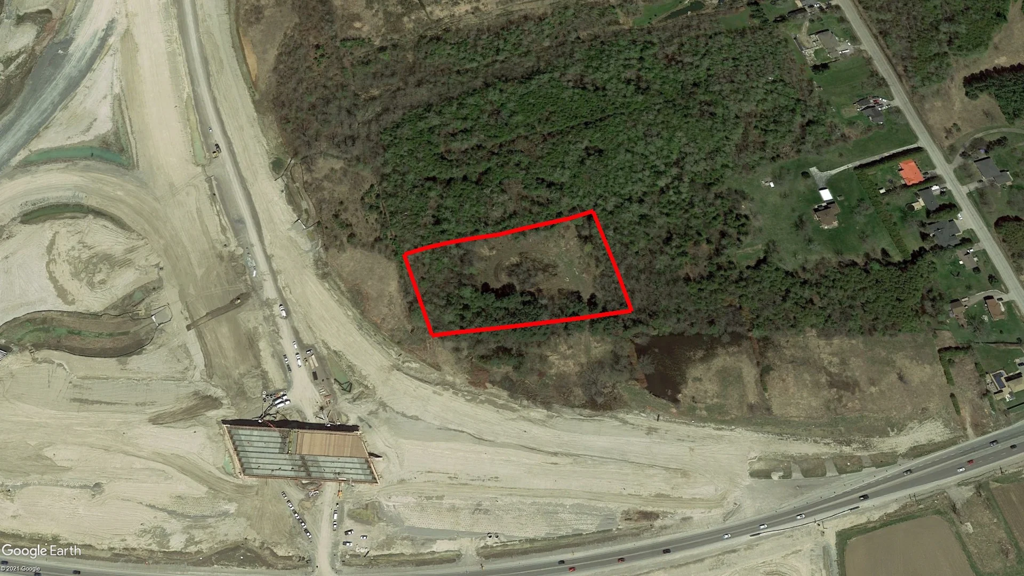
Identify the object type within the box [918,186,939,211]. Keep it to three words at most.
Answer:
house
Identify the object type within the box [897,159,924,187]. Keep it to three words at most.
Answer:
house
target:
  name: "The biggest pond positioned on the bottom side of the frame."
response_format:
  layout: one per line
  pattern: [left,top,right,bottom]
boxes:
[631,331,756,404]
